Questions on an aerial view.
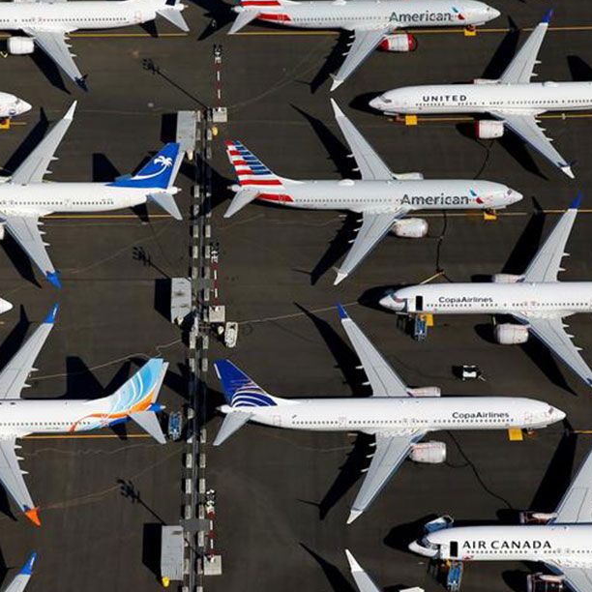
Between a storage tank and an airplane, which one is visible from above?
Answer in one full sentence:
Visible in the photo is an airplane.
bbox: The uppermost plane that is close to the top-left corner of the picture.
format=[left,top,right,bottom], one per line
[0,0,188,90]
